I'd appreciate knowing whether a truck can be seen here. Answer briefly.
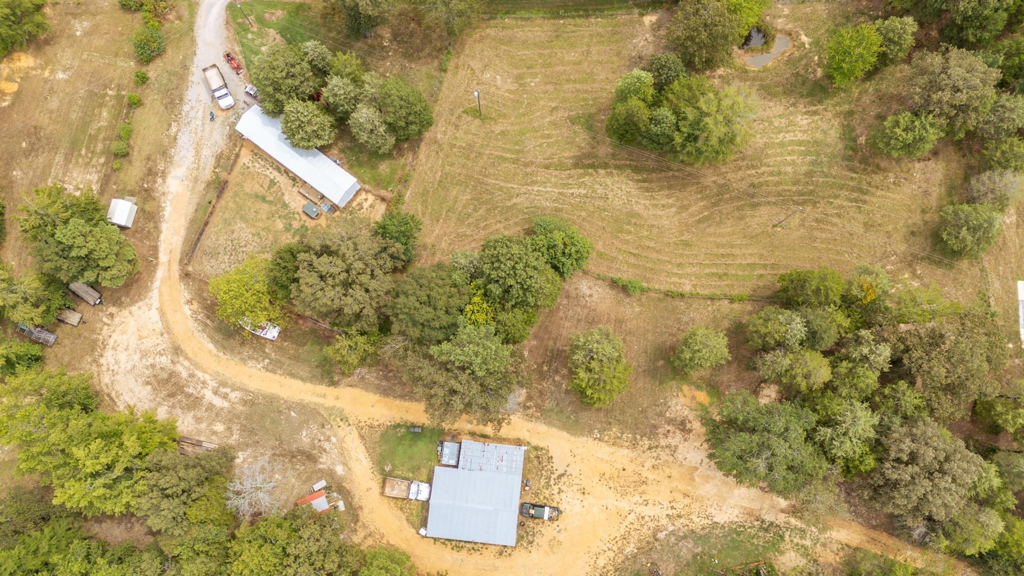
Yes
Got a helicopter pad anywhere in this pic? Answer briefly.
No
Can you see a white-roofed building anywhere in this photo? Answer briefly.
Yes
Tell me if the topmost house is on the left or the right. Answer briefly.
left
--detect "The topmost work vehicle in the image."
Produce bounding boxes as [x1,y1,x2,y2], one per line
[222,50,248,78]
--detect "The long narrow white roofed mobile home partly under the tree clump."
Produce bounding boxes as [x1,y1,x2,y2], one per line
[237,106,359,207]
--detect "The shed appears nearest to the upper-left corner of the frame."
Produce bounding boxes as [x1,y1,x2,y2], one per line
[106,199,137,226]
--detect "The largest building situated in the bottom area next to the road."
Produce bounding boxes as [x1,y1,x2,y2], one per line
[427,440,526,545]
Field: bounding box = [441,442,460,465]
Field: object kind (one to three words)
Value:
shed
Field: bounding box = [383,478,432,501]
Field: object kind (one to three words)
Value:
truck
